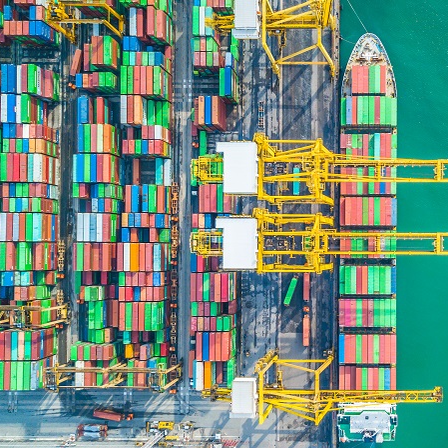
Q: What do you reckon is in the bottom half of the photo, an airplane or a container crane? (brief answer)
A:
container crane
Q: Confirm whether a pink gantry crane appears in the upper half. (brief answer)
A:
No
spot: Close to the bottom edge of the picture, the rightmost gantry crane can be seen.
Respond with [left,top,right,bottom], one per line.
[194,340,445,428]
